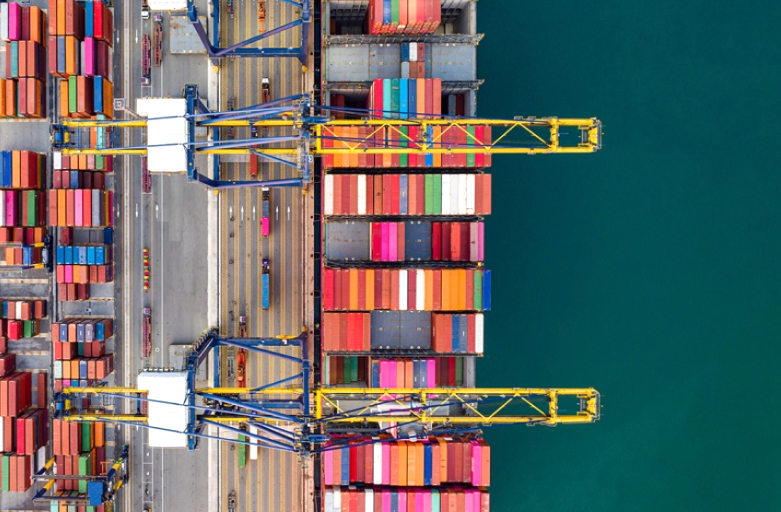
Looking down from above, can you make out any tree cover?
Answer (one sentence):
No, there is no tree cover in the image.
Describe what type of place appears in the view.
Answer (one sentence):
What you see here is a port.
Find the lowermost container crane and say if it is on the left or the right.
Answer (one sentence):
It is on the left.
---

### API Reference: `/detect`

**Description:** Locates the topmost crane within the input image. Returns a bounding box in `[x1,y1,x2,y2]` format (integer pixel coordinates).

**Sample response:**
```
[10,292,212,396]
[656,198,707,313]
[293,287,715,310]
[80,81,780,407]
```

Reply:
[144,0,313,65]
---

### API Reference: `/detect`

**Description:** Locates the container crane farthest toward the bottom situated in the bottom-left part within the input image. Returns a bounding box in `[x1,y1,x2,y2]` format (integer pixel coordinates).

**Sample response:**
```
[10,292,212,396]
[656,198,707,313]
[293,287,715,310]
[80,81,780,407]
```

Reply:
[27,449,127,508]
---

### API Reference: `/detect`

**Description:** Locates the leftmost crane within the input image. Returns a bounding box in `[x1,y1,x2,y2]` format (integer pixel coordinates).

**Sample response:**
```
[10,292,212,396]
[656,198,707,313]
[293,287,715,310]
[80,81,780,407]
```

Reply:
[0,231,53,270]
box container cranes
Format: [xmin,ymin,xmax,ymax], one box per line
[47,330,607,460]
[27,449,127,508]
[47,87,608,192]
[0,231,53,270]
[144,0,313,65]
